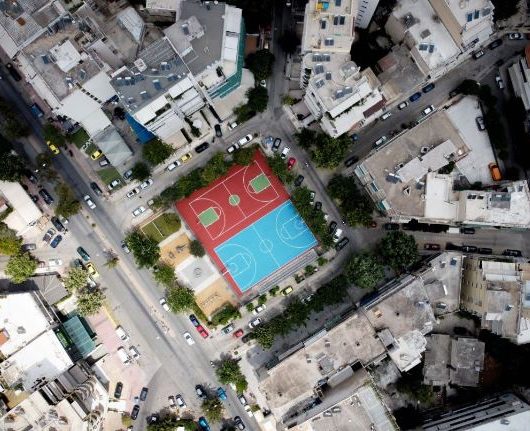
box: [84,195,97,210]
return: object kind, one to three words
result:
vehicle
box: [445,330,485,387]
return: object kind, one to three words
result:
house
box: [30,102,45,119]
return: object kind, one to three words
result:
vehicle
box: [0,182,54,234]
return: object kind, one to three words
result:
building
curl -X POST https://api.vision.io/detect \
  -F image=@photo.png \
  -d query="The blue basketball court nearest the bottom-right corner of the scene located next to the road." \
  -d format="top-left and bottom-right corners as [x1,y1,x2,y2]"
[214,200,320,292]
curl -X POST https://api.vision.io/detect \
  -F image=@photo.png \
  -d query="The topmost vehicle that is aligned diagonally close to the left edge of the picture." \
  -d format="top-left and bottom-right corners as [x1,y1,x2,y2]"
[7,66,20,81]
